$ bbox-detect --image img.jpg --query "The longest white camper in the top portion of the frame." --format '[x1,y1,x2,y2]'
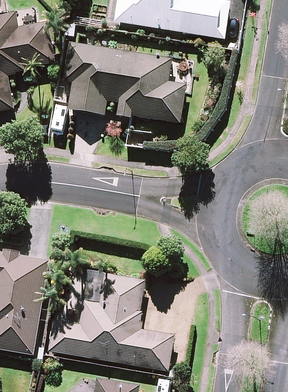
[52,106,69,140]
